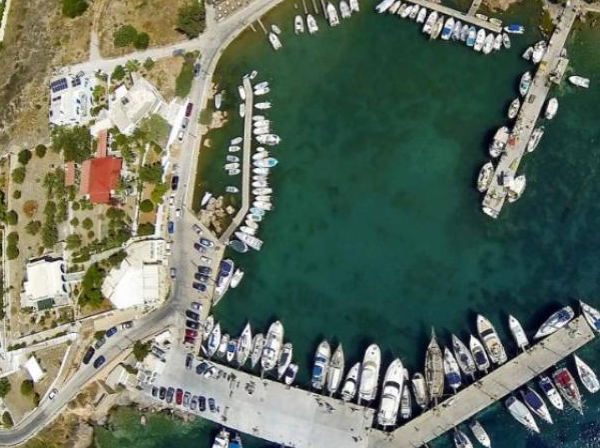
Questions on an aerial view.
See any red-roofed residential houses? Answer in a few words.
Yes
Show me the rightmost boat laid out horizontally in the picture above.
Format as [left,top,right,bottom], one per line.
[569,76,591,89]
